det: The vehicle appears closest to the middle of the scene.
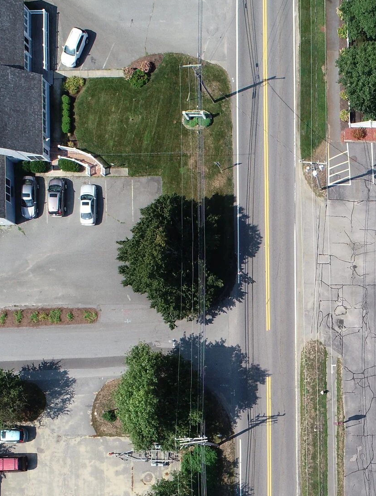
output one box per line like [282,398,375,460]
[78,184,98,225]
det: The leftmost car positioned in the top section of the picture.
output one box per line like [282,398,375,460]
[18,177,39,219]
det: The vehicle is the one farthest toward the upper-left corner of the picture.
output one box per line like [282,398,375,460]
[61,25,89,68]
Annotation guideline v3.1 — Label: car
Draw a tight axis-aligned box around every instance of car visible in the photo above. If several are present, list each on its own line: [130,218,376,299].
[78,184,98,225]
[0,428,29,443]
[44,179,67,218]
[0,456,28,473]
[18,177,39,219]
[61,25,89,68]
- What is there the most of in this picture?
paved ground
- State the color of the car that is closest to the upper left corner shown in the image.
white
